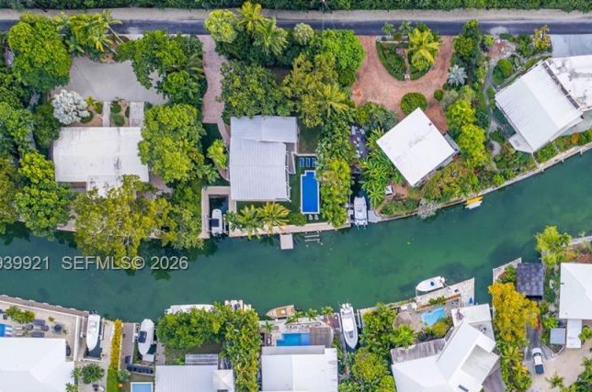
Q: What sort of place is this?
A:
residential area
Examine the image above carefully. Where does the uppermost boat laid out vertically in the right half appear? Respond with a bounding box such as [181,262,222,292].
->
[354,197,368,226]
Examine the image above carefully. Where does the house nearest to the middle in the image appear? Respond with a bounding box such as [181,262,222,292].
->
[228,115,303,202]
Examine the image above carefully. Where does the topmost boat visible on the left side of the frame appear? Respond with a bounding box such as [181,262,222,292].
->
[208,208,223,237]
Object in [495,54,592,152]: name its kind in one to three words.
house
